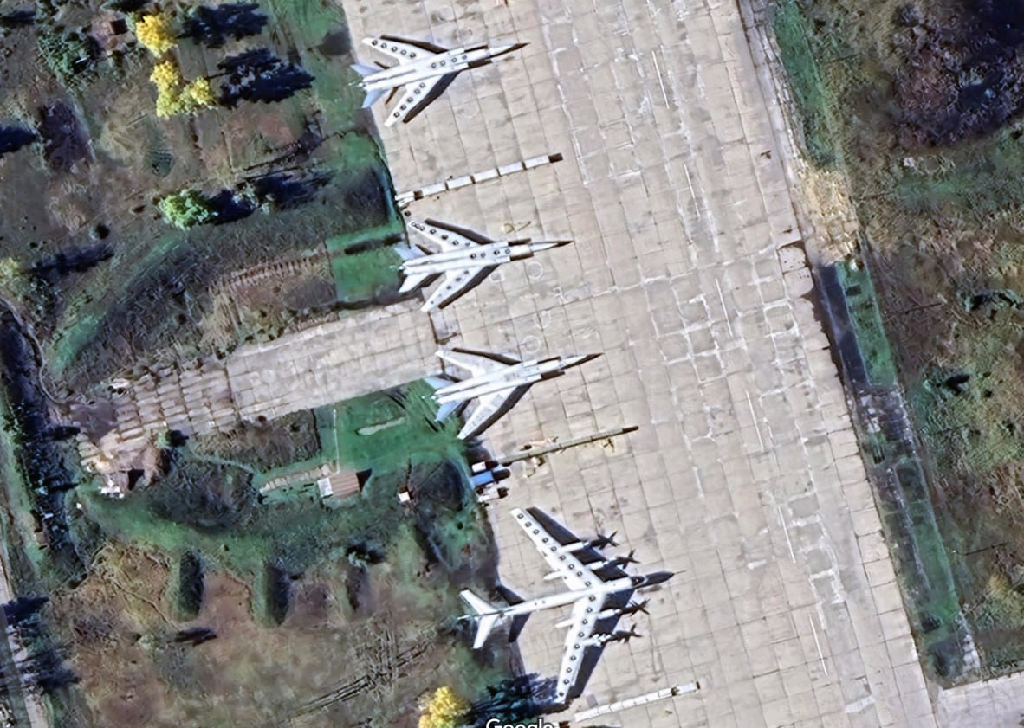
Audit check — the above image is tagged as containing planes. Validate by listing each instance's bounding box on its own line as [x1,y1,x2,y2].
[461,510,660,703]
[390,220,555,311]
[351,36,511,125]
[424,348,585,438]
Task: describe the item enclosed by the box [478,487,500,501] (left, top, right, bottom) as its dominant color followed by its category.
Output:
white vehicle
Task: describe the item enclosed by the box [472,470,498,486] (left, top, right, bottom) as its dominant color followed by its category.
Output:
blue vehicle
